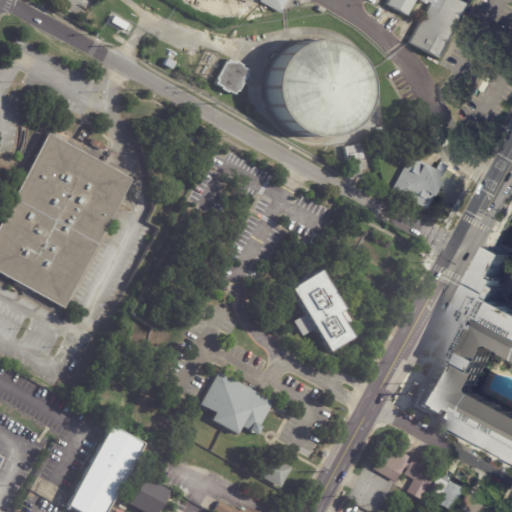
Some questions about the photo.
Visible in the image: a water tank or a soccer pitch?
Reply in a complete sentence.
The image shows a water tank.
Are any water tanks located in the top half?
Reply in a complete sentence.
Yes, looking in the top half, one can make out a water tank.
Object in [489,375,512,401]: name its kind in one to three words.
swimming pool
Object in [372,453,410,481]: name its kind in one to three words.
house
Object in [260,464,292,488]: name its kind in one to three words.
house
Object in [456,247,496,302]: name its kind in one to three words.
building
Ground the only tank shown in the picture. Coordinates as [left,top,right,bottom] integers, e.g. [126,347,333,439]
[266,38,381,136]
